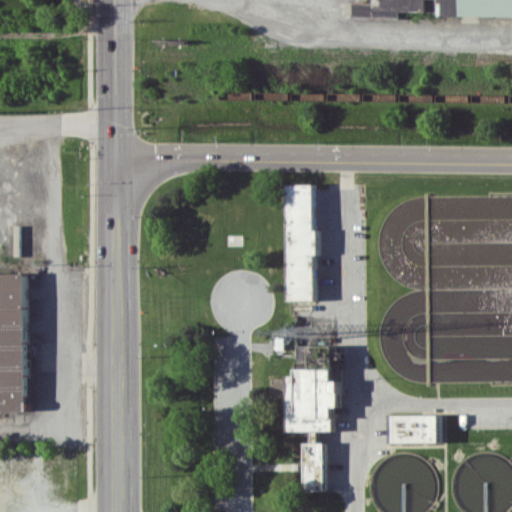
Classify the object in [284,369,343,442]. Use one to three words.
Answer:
building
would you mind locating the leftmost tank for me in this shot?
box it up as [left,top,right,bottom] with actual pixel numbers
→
[371,453,439,512]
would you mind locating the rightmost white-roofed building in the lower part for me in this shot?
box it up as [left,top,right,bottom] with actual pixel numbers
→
[390,416,442,444]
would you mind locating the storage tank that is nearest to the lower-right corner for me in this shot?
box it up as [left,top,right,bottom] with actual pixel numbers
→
[453,454,512,512]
